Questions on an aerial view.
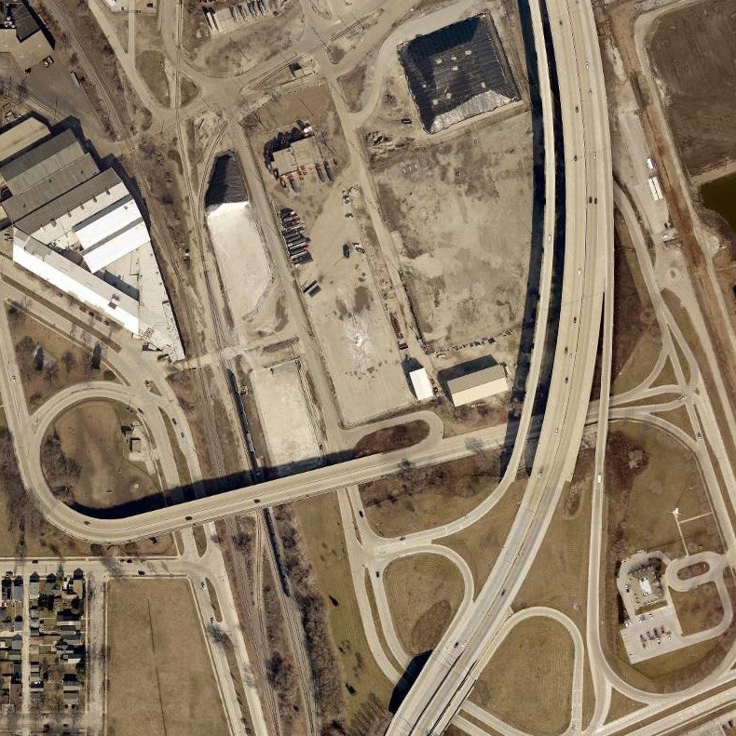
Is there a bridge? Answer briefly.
Yes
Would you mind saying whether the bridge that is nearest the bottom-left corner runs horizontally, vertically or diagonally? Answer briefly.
horizontally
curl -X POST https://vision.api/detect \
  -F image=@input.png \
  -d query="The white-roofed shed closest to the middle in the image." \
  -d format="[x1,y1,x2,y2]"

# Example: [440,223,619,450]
[409,367,433,401]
